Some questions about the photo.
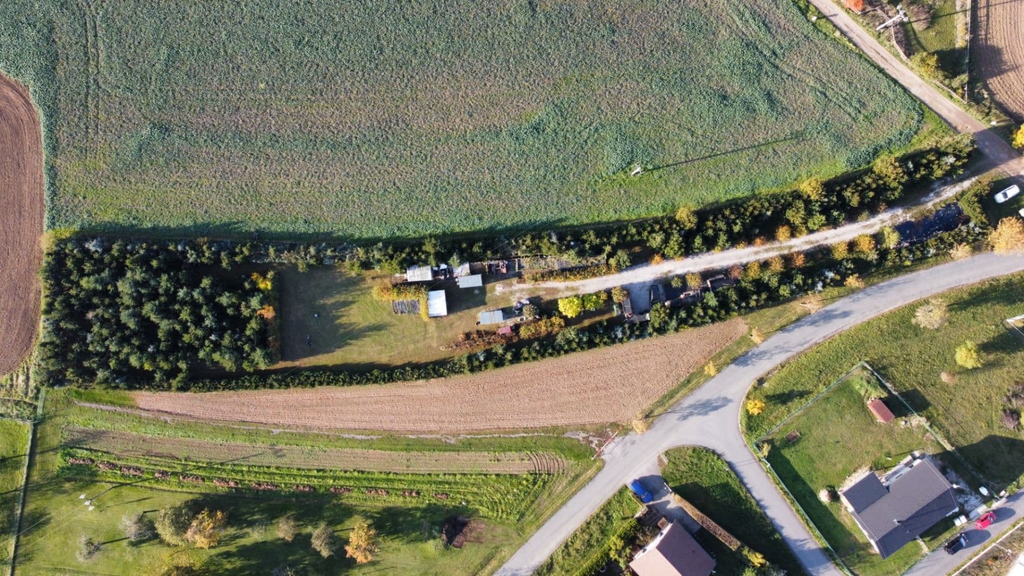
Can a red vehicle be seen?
Yes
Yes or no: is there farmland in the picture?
Yes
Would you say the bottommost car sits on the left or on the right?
right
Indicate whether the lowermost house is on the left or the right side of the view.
right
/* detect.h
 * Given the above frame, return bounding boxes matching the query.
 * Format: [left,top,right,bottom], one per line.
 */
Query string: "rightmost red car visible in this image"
[973,510,997,529]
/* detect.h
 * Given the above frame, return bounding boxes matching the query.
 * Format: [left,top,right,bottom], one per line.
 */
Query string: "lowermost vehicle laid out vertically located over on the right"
[647,281,661,310]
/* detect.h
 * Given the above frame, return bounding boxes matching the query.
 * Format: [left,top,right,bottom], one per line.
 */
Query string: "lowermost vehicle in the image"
[942,533,968,554]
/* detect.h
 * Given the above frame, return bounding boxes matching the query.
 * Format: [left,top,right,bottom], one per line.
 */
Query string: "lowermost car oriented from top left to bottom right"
[629,479,652,502]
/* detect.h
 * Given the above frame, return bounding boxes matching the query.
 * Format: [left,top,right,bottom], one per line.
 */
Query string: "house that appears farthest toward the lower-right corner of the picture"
[841,458,958,554]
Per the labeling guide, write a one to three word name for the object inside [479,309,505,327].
shed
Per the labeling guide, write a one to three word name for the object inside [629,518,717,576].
house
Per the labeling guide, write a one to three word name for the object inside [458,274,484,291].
shed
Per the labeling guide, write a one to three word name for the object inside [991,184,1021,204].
car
